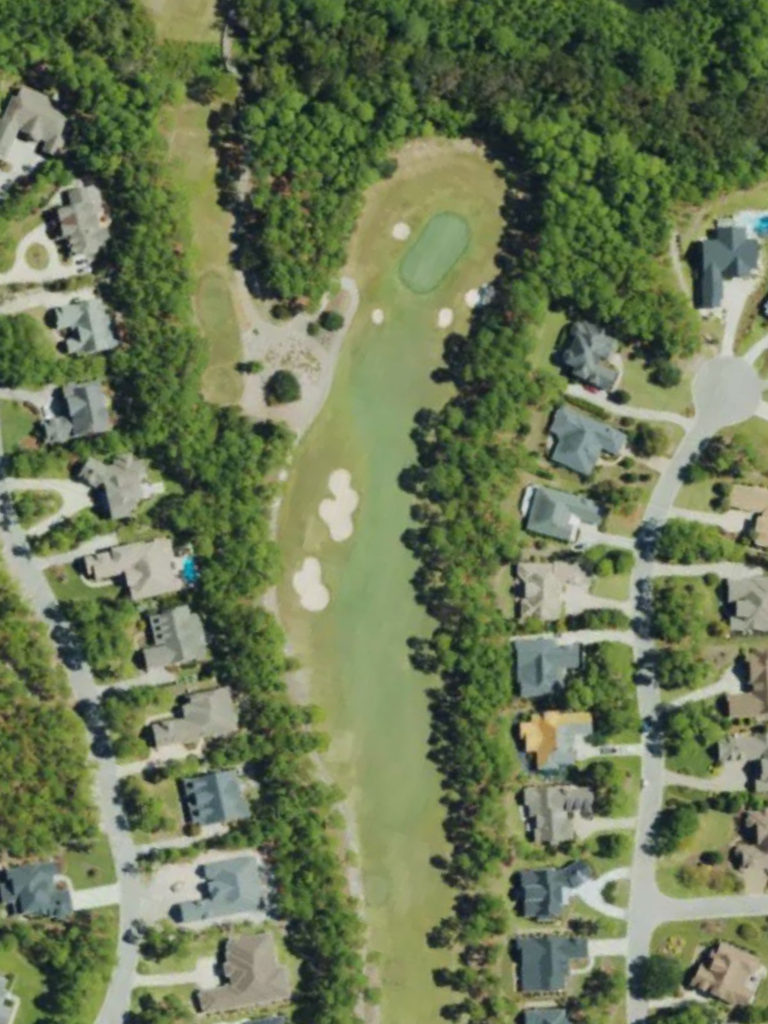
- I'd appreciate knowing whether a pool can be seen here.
Yes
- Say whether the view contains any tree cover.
Yes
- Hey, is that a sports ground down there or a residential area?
residential area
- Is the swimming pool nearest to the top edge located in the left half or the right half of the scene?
right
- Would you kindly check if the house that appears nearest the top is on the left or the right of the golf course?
to the left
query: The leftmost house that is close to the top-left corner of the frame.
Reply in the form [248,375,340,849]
[0,85,74,162]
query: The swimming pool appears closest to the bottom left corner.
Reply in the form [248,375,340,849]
[176,550,197,585]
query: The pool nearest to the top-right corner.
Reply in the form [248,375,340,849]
[733,209,768,240]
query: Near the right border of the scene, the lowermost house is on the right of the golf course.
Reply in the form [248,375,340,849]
[689,941,762,1008]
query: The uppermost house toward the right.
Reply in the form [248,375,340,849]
[700,226,759,307]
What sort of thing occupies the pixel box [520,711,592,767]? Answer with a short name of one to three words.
house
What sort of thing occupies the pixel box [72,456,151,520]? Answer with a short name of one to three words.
house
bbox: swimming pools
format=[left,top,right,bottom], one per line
[733,209,768,240]
[176,550,197,585]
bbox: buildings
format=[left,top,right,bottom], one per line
[152,683,241,750]
[0,863,75,917]
[520,711,592,767]
[719,736,768,795]
[736,811,768,868]
[731,483,768,547]
[72,456,151,520]
[700,226,759,307]
[516,561,591,622]
[184,771,252,826]
[0,85,74,162]
[728,580,768,633]
[83,539,184,601]
[181,854,267,925]
[523,1009,567,1024]
[558,319,623,391]
[519,485,604,542]
[517,864,586,919]
[551,405,629,475]
[516,639,579,698]
[0,982,16,1024]
[728,650,768,718]
[518,785,594,845]
[689,941,762,1008]
[144,607,213,673]
[517,934,588,991]
[56,184,117,260]
[54,296,122,355]
[203,932,295,1013]
[47,382,111,444]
